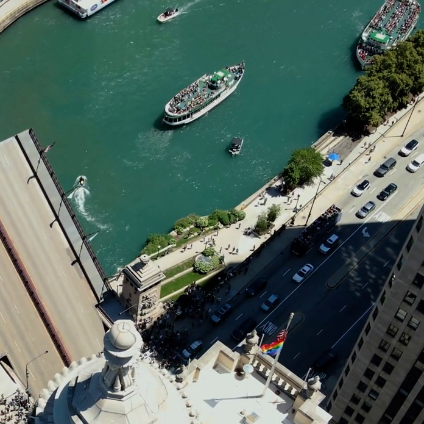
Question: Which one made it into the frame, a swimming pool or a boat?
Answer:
boat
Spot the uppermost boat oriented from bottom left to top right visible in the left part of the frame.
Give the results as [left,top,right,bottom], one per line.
[158,6,181,23]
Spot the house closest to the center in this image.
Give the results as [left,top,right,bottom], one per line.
[117,255,168,328]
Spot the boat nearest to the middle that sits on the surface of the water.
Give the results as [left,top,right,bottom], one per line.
[226,131,245,158]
